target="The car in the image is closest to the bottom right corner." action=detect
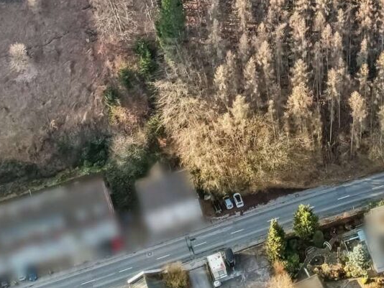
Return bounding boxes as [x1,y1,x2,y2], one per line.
[223,248,236,270]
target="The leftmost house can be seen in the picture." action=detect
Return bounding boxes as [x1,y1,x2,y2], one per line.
[0,175,123,275]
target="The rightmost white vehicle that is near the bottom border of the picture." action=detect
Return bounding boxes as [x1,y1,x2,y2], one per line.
[210,249,223,287]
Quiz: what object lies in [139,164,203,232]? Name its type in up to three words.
house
